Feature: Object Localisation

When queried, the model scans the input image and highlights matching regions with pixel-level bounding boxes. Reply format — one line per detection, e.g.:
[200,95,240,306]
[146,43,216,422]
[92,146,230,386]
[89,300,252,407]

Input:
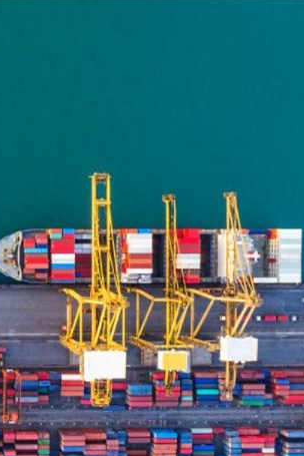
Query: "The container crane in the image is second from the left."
[60,175,130,410]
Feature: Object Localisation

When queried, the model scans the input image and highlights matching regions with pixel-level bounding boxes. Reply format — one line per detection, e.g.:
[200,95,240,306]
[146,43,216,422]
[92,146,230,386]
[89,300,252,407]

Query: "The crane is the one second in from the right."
[126,196,195,391]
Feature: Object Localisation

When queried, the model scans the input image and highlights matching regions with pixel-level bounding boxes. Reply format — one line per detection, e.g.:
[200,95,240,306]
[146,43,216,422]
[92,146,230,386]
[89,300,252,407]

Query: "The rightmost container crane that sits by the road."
[186,193,260,402]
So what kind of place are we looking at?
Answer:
port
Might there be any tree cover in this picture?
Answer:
No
